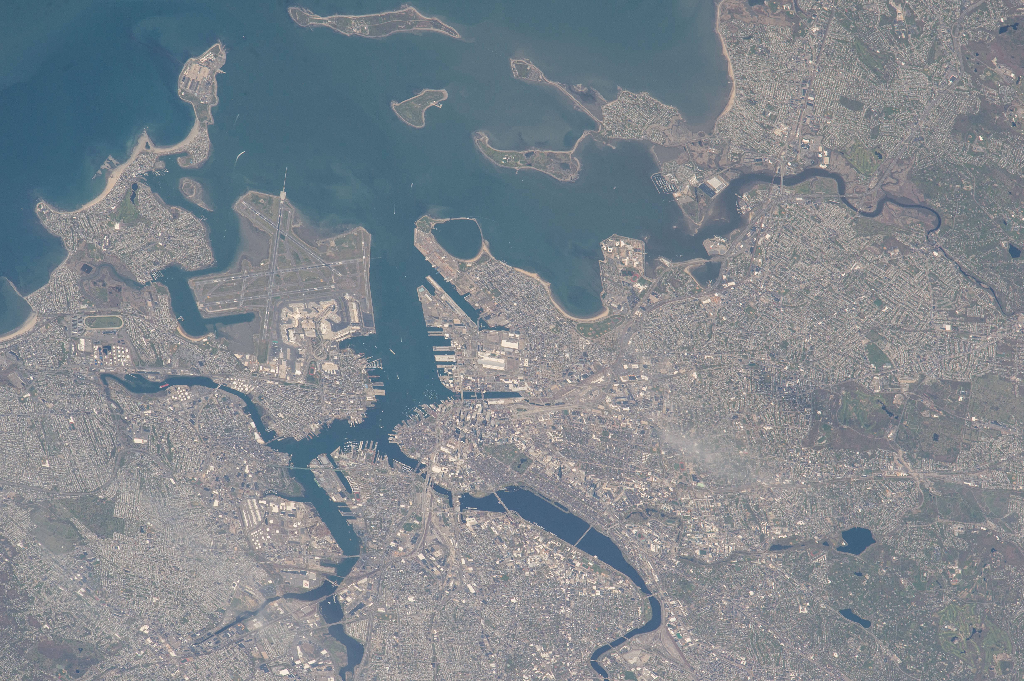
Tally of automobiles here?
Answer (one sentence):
I count no automobiles.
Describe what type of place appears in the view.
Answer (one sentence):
This looks like a port.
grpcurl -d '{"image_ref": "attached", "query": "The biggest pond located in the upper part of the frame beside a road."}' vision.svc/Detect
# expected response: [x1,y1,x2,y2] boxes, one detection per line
[431,219,483,259]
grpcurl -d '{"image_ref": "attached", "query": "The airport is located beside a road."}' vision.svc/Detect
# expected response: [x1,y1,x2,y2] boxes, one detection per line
[194,192,375,372]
